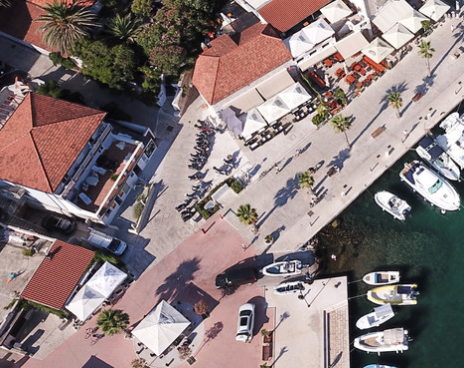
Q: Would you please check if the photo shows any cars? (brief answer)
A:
Yes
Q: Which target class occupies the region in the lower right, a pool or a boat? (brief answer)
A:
boat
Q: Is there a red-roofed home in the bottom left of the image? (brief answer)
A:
Yes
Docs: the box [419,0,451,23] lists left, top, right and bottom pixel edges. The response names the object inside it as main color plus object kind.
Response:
white umbrella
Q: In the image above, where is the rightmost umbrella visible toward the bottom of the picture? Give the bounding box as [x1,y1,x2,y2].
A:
[132,300,191,356]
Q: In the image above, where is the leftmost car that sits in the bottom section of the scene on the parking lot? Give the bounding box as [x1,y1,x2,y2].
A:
[39,216,79,237]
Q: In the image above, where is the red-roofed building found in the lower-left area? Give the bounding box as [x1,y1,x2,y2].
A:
[20,239,104,318]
